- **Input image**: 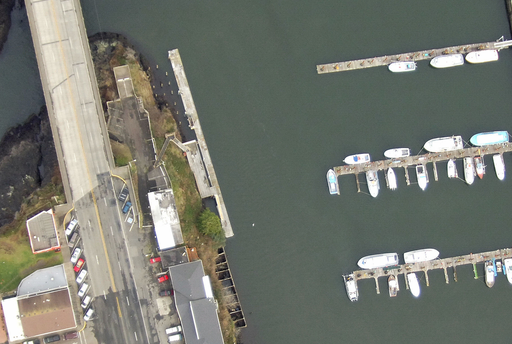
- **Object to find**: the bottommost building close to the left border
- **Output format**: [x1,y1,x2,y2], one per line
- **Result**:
[2,288,77,344]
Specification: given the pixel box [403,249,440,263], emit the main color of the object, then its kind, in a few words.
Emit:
white boat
